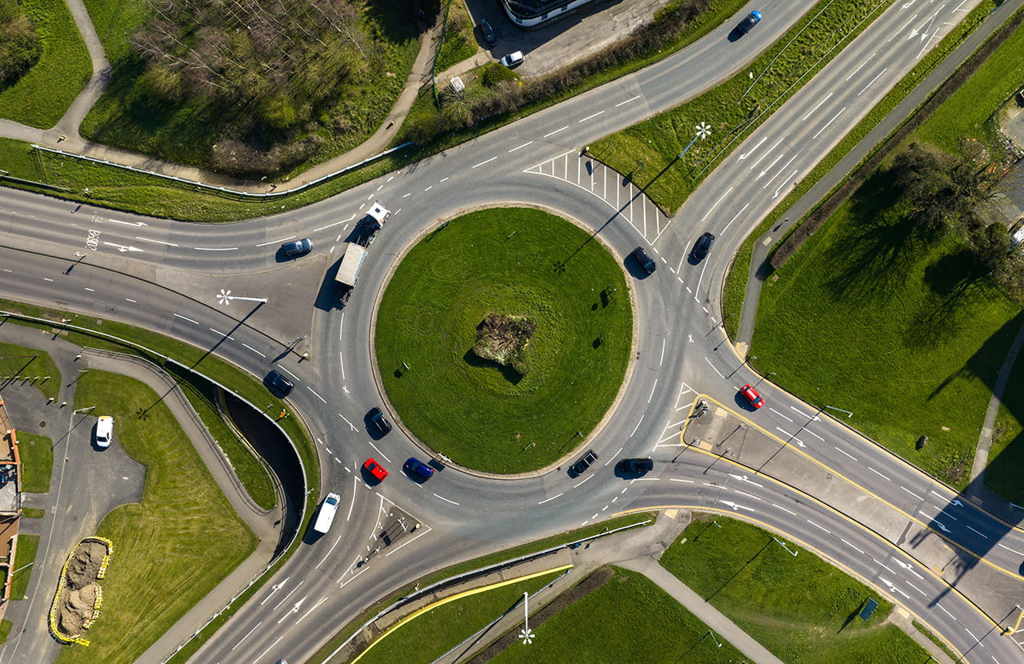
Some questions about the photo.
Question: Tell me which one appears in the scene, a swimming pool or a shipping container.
shipping container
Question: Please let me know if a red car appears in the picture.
Yes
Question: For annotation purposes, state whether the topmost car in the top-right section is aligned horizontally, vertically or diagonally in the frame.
diagonally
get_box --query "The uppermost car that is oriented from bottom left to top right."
[733,10,761,37]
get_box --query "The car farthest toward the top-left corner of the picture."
[281,239,314,256]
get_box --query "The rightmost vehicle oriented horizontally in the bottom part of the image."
[620,458,653,474]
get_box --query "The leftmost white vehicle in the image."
[97,415,117,446]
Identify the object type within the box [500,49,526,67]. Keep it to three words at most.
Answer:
car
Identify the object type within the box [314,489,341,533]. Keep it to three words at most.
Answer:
vehicle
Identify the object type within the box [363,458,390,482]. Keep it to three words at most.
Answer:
car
